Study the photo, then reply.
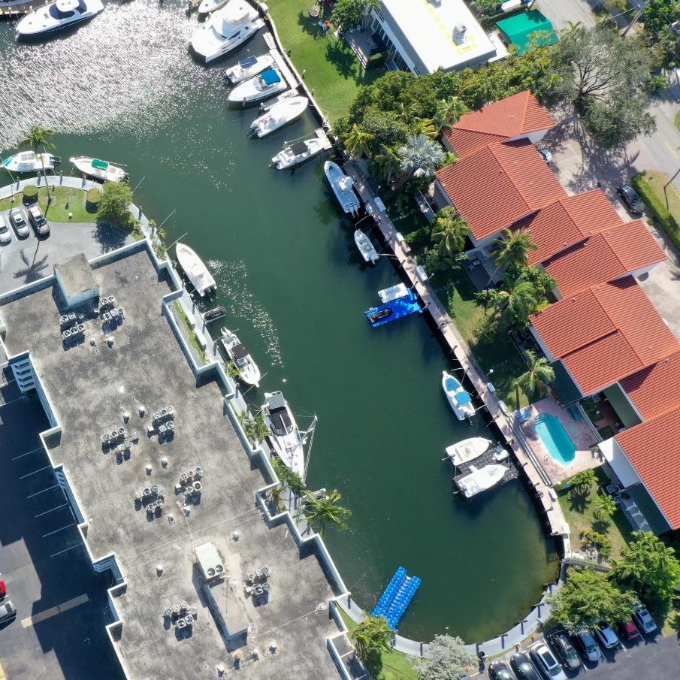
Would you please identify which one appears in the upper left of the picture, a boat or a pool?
boat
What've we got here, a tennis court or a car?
car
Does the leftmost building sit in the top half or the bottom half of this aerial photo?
bottom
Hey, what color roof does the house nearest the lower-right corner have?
red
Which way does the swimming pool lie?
at an angle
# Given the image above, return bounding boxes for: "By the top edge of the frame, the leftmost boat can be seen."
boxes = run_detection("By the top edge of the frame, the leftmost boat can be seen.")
[16,0,110,36]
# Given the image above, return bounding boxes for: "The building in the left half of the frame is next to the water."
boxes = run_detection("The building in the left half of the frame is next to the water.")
[0,237,376,680]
